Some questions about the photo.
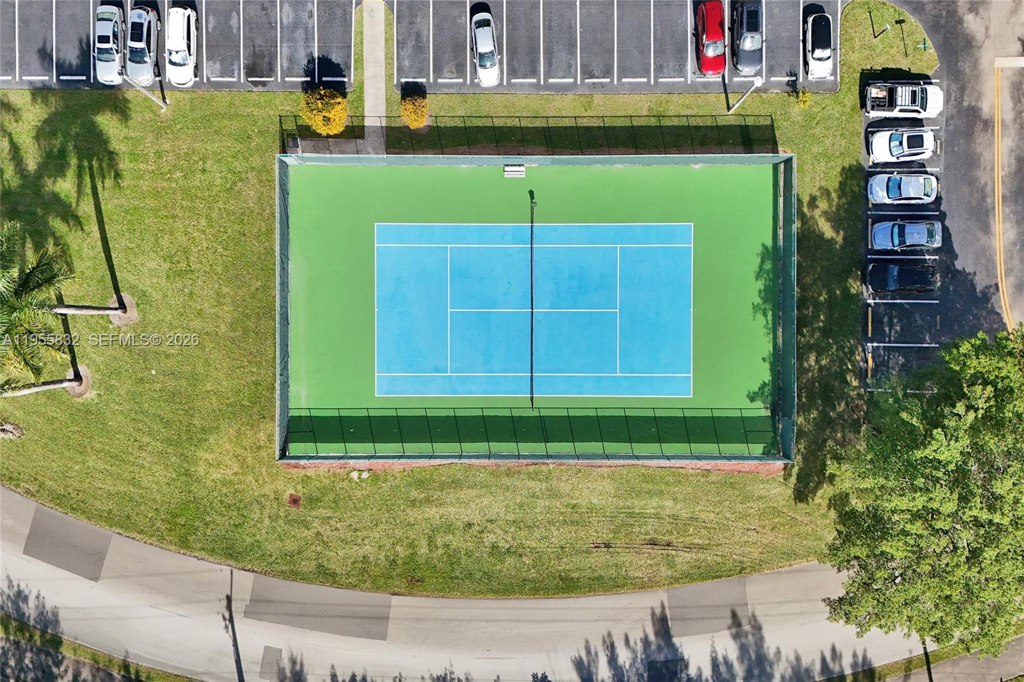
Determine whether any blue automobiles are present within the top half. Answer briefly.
Yes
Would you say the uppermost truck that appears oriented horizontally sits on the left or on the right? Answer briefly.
right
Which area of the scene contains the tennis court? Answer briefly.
center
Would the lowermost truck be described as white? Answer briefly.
No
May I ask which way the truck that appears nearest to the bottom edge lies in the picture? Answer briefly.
from side to side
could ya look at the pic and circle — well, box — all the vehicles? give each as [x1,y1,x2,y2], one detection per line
[802,11,837,81]
[471,12,503,89]
[863,260,939,295]
[732,0,767,77]
[695,0,729,79]
[867,126,938,164]
[869,218,943,252]
[91,6,128,87]
[862,80,944,120]
[124,5,161,87]
[163,5,200,89]
[865,170,938,206]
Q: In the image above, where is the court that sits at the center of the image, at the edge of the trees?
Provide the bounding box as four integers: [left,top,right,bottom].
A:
[290,165,781,454]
